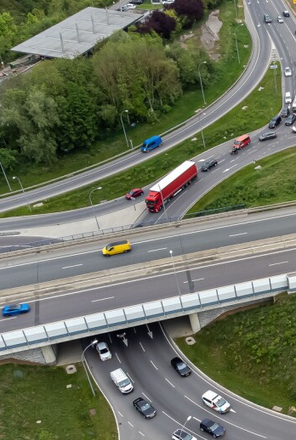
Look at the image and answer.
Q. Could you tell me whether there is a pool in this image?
No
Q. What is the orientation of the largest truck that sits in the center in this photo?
diagonally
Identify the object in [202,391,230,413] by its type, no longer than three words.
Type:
car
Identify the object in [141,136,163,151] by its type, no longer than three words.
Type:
vehicle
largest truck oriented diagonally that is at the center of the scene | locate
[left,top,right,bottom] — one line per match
[146,161,196,208]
